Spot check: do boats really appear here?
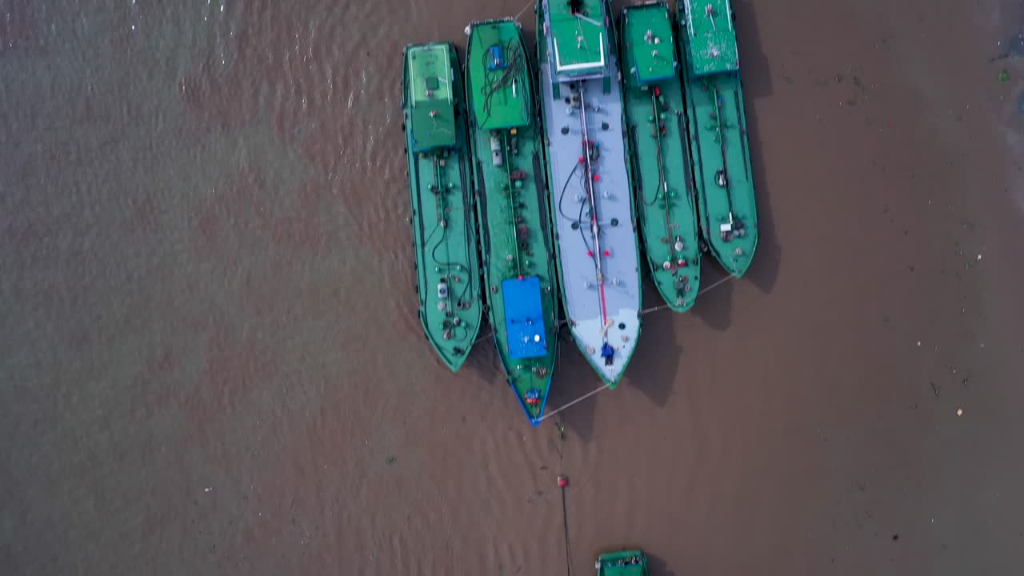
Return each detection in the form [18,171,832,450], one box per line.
[596,547,648,576]
[401,42,482,373]
[536,0,643,390]
[619,2,702,313]
[673,0,758,279]
[465,17,559,427]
